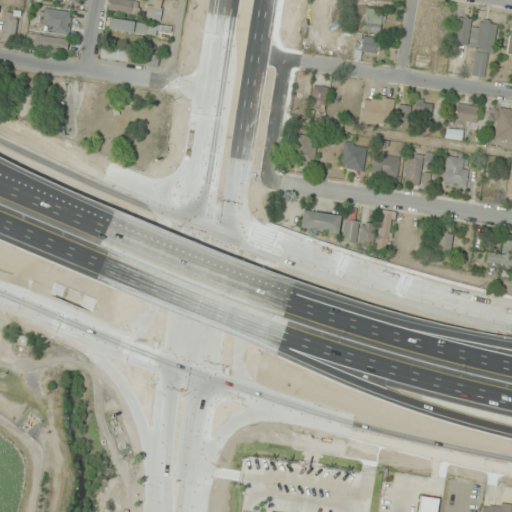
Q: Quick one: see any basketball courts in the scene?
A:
No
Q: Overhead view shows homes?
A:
Yes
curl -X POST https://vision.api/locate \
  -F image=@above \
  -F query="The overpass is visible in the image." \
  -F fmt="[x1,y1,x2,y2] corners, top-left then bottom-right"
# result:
[97,208,294,354]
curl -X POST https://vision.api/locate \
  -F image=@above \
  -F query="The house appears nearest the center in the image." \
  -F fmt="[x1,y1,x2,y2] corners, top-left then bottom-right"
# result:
[303,211,342,232]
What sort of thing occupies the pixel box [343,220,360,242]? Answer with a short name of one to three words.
house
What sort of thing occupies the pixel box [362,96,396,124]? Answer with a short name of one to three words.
house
